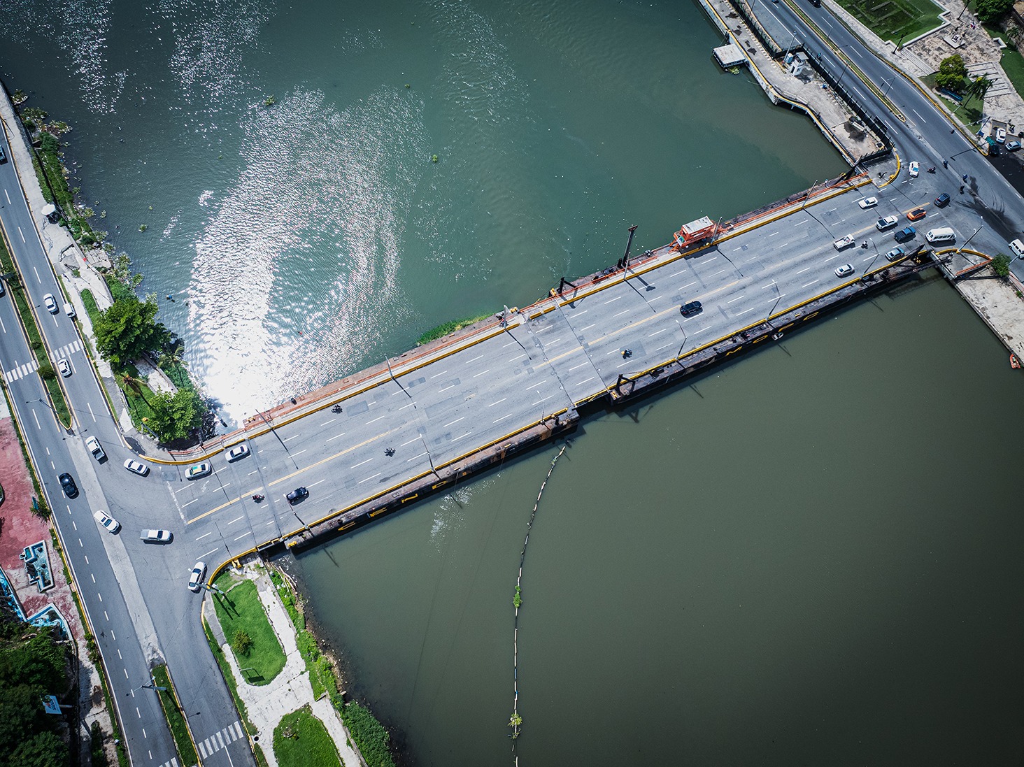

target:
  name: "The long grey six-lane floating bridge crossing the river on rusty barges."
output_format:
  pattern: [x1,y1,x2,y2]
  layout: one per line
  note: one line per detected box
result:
[162,170,933,552]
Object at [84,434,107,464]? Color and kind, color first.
white truck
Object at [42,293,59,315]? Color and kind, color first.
white car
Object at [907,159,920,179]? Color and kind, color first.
white vehicle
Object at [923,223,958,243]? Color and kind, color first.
white vehicle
